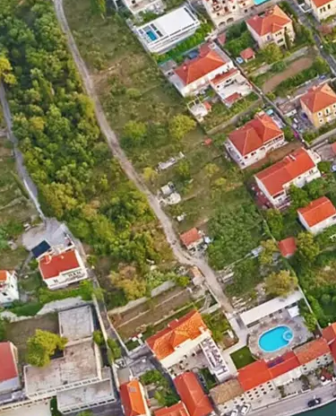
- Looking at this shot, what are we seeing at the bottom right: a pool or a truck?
pool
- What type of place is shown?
residential area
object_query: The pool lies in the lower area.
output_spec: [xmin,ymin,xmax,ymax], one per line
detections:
[256,325,294,352]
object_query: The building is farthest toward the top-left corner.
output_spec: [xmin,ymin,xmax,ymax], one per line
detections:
[114,0,166,25]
